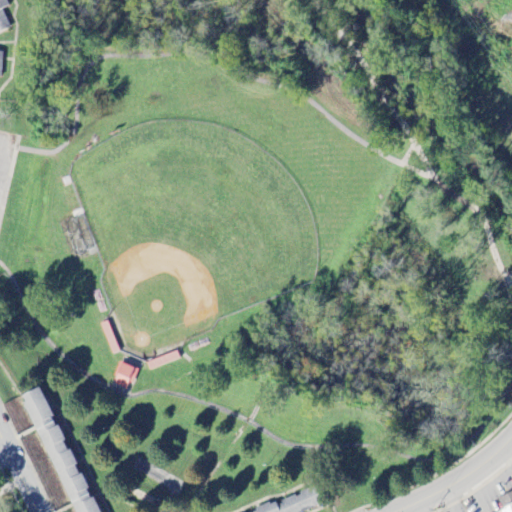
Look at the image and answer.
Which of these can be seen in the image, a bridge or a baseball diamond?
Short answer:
baseball diamond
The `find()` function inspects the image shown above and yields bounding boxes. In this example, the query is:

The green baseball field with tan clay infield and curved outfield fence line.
[70,118,318,360]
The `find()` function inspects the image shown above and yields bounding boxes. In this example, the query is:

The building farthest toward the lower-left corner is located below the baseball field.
[20,388,100,512]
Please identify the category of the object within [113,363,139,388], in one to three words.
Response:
building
